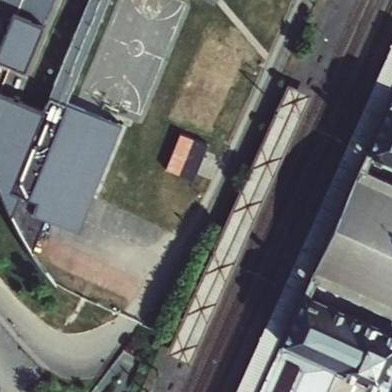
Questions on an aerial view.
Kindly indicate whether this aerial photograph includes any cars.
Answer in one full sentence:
No, the picture doesn't show any car.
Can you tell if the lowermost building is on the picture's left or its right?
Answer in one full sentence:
The lowermost building is on the left side of the image.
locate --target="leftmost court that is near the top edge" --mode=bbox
[80,0,195,132]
